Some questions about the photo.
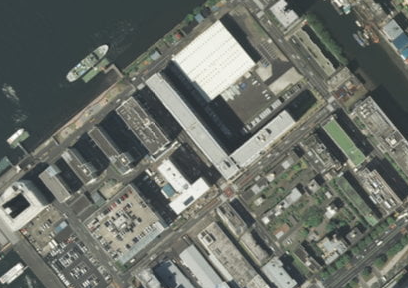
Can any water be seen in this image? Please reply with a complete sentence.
Yes, some water is visible.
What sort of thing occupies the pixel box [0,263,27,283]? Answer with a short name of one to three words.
ship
